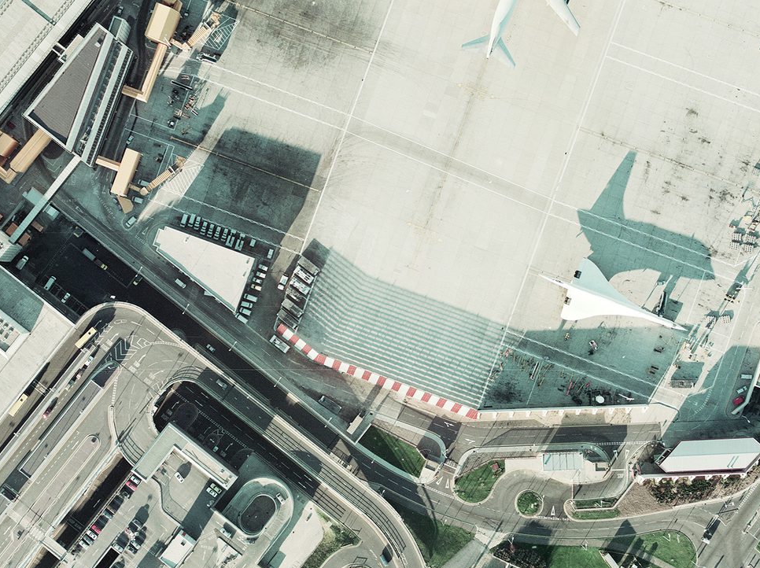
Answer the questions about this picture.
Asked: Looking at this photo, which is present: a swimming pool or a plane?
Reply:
plane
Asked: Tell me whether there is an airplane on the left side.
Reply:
No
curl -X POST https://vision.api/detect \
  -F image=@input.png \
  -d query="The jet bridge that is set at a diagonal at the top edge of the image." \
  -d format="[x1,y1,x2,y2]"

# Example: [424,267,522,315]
[169,9,220,52]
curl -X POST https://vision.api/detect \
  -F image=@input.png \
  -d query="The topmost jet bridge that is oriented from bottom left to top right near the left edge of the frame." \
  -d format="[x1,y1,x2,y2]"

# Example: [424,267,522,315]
[10,130,54,173]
